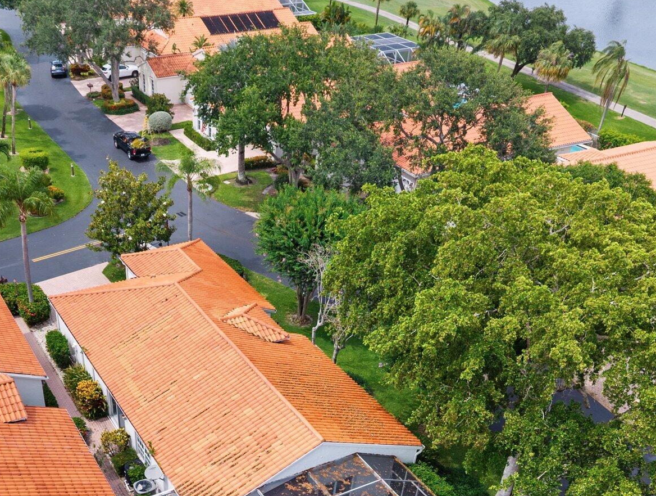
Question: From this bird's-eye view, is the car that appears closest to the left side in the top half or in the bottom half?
top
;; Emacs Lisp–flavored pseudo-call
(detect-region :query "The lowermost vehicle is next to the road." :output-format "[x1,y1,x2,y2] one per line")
[111,124,154,154]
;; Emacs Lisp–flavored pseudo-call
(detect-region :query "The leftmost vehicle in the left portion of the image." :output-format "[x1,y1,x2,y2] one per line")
[47,56,70,76]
